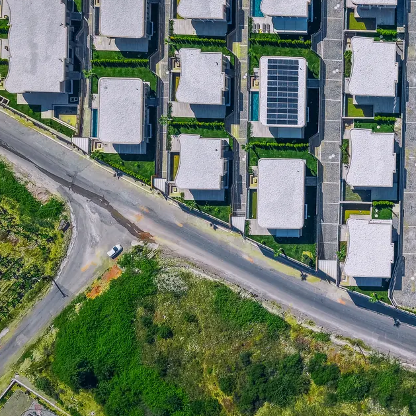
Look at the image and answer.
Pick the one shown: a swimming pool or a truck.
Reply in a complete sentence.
Looking from above, you can make out a swimming pool.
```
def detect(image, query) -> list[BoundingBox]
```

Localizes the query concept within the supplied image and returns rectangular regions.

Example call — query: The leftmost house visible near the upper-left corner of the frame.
[5,0,77,92]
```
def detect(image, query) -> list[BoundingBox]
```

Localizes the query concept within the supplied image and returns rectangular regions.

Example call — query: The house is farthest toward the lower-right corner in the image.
[344,218,394,279]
